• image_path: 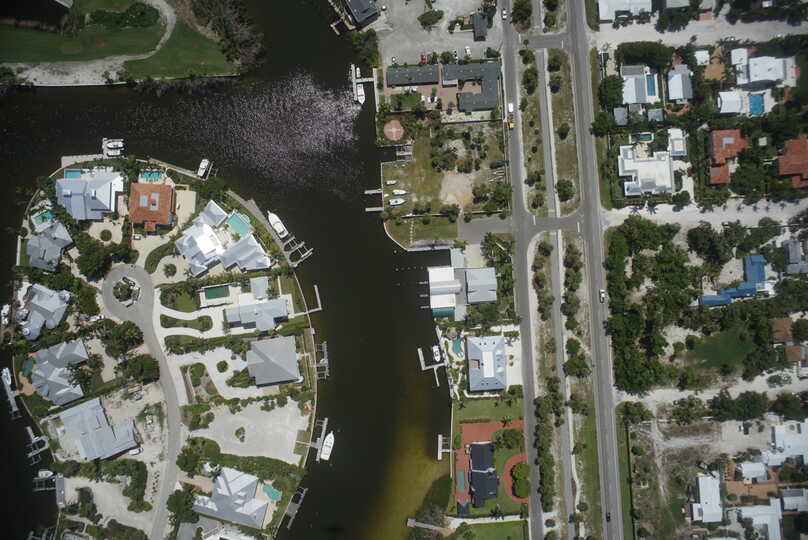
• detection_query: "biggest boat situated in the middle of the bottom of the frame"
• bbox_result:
[320,433,333,462]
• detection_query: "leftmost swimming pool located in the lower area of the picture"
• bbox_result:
[21,358,34,377]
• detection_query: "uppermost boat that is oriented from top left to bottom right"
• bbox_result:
[269,214,289,239]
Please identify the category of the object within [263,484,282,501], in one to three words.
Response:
swimming pool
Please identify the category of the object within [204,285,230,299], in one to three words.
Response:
swimming pool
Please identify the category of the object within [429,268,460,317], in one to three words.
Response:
building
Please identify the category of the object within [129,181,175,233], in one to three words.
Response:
house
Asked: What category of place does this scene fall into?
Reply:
residential area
